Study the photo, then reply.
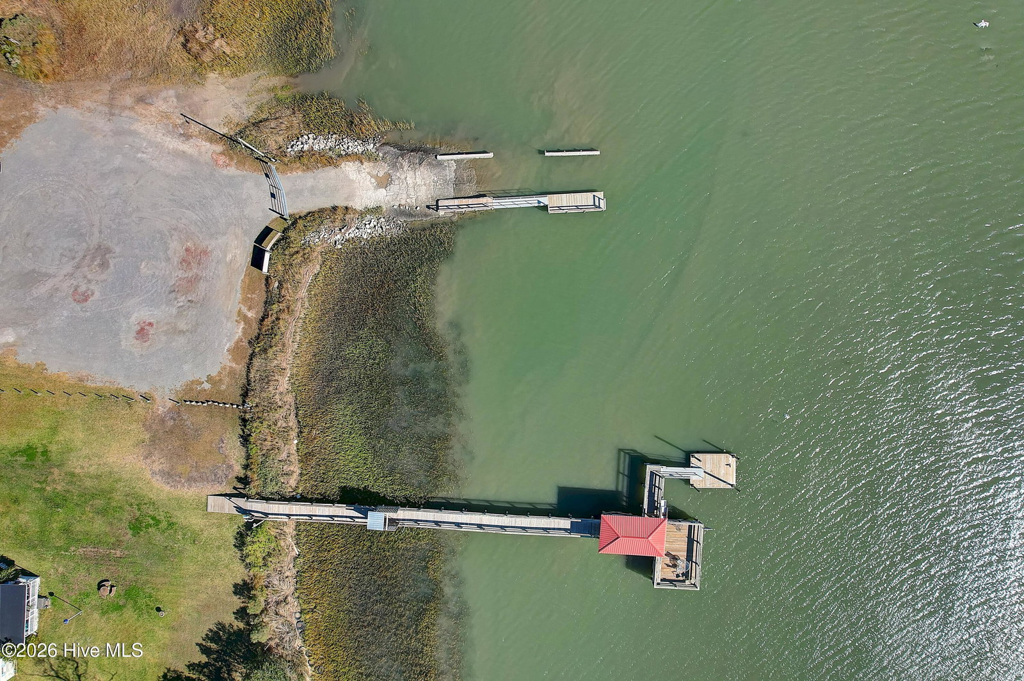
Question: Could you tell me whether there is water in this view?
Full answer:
Yes, some water is visible.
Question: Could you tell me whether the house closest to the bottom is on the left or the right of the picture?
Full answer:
The house closest to the bottom appears in the left half of the scene.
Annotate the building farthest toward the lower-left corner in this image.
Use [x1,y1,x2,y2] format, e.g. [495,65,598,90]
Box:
[0,576,52,647]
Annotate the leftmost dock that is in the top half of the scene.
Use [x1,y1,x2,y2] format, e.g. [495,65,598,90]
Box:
[437,196,494,214]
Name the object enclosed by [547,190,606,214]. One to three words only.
pier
